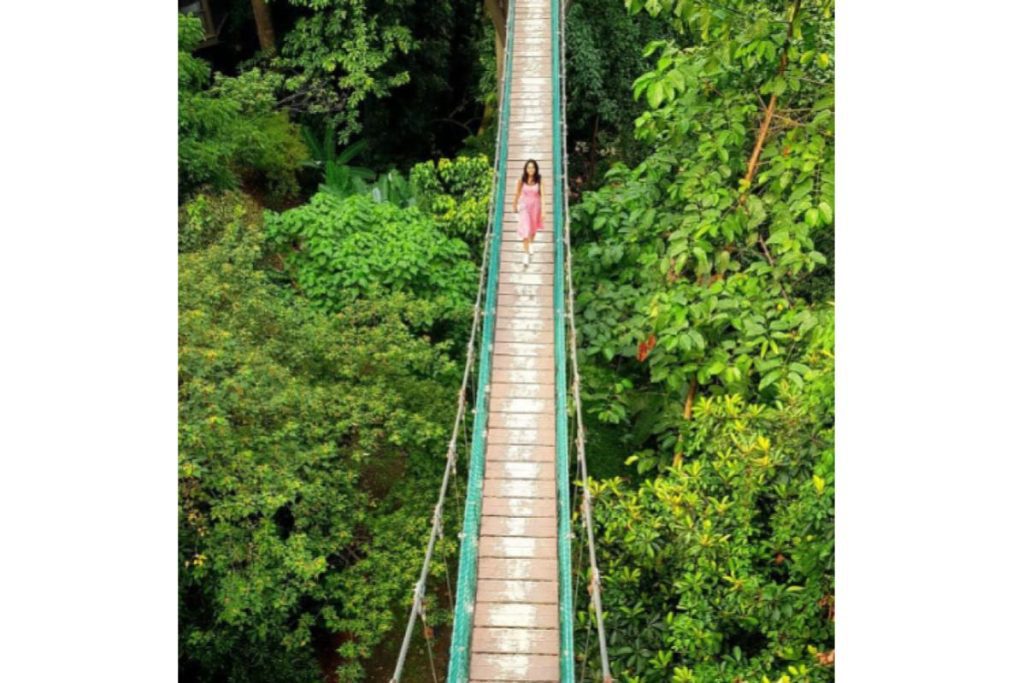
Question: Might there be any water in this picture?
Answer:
No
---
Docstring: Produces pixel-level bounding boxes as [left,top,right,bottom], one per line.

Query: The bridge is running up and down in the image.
[387,0,615,683]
